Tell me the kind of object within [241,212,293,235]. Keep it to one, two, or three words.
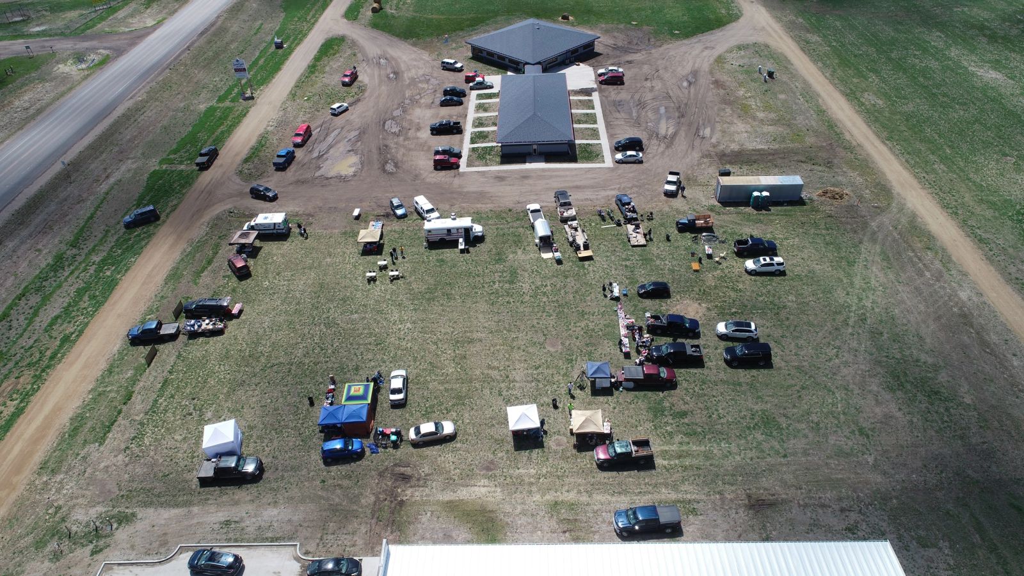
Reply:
vehicle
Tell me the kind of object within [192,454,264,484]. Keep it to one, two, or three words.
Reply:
truck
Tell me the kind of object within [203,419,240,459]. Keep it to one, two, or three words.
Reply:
tent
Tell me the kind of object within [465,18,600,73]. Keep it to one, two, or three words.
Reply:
building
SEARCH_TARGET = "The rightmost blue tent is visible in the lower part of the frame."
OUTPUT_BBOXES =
[586,362,610,391]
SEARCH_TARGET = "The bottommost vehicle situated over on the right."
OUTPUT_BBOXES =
[613,507,686,538]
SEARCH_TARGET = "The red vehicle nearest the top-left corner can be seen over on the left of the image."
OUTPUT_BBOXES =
[293,124,312,142]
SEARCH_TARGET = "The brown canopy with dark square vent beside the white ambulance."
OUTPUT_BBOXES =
[229,231,261,256]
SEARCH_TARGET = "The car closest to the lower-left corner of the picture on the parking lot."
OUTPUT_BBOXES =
[186,548,244,576]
